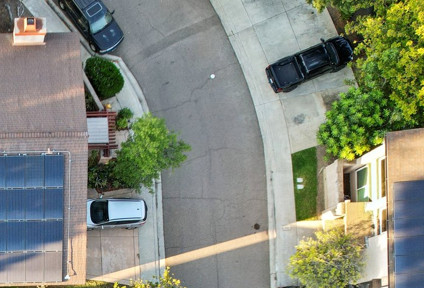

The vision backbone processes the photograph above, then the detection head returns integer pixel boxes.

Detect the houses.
[324,126,424,288]
[0,16,88,288]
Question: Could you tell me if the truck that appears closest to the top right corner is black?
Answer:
Yes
